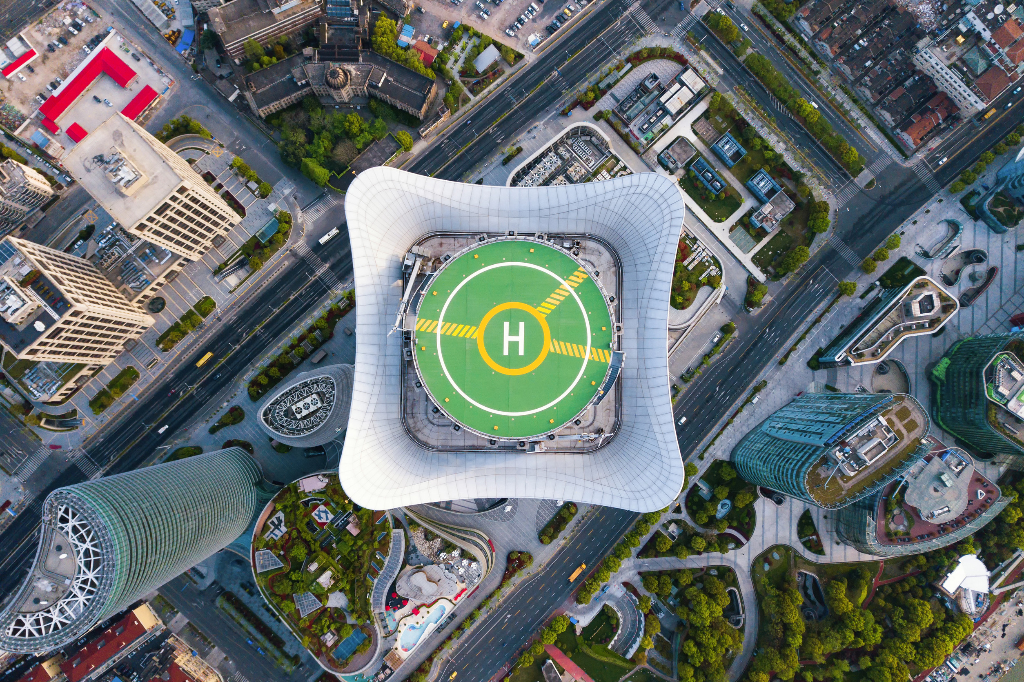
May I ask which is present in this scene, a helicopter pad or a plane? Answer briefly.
helicopter pad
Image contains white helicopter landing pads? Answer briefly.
No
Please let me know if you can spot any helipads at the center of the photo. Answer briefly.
Yes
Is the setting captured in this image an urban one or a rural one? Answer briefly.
urban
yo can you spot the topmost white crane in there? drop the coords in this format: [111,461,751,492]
[387,246,434,337]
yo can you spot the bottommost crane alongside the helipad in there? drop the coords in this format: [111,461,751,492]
[526,428,613,450]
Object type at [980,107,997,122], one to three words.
vehicle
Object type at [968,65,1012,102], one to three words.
house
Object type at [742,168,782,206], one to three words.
building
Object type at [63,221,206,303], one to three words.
building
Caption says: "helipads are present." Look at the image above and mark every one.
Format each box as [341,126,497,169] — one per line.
[414,240,613,437]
